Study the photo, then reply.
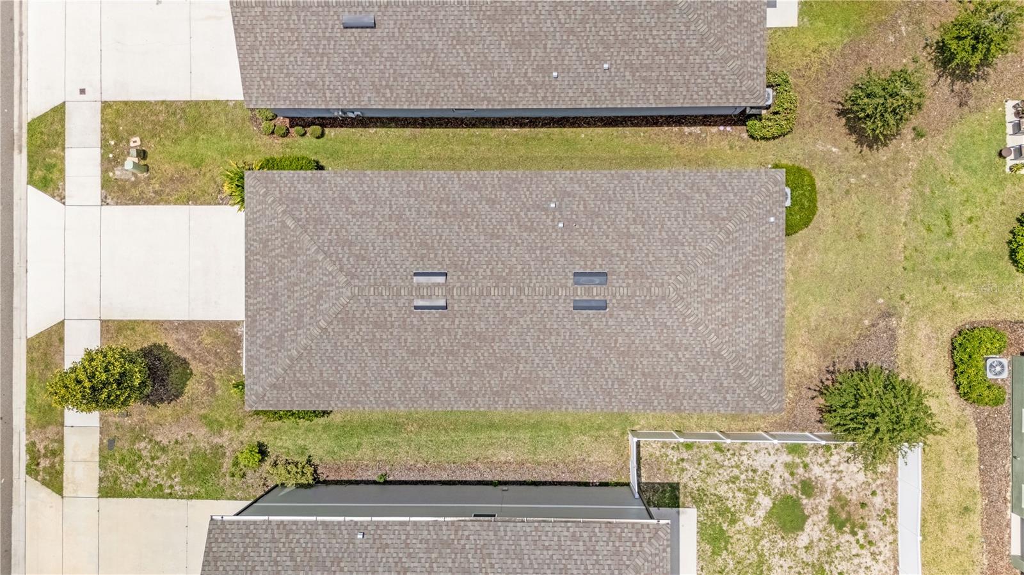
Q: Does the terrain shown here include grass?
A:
Yes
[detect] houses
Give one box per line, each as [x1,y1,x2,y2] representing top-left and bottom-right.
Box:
[202,485,670,575]
[230,0,767,123]
[245,169,785,412]
[1012,356,1024,575]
